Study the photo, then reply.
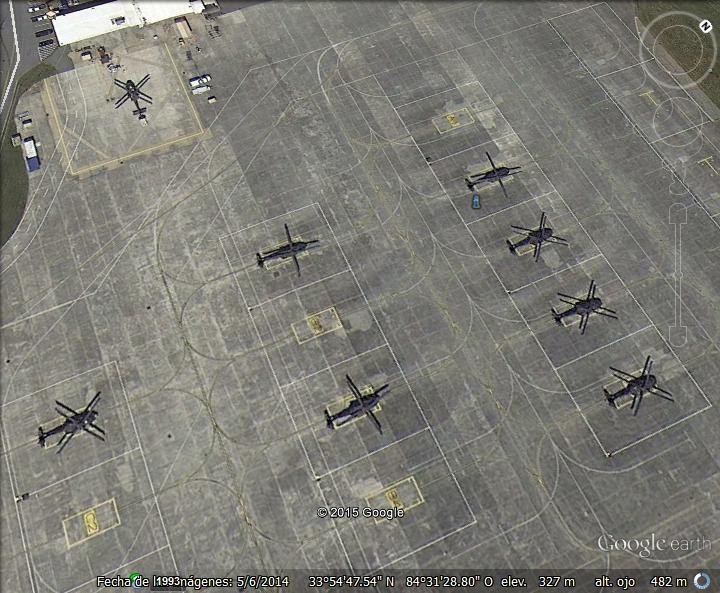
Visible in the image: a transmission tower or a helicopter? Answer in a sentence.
The one in the frame is a helicopter.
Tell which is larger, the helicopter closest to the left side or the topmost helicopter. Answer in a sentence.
The helicopter closest to the left side takes up more space than the topmost helicopter does.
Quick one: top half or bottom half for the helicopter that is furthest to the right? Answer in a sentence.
The helicopter that is furthest to the right sits in the bottom half of the picture.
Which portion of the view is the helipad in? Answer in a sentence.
The helipad sits in the top left section of the image.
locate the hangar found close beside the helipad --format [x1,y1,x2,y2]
[52,0,202,53]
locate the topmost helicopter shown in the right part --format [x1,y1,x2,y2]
[463,155,519,196]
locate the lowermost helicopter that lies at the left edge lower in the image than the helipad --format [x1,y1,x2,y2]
[33,397,106,454]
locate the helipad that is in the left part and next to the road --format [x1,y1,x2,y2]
[43,39,204,174]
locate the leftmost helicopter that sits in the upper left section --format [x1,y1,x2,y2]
[115,78,154,120]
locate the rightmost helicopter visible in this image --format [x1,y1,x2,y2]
[604,359,674,414]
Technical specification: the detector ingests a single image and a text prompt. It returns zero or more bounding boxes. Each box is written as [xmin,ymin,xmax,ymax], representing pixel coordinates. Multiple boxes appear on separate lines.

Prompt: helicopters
[552,285,618,336]
[507,217,569,263]
[463,155,519,196]
[254,224,316,270]
[604,359,674,414]
[317,380,384,433]
[115,78,154,120]
[33,397,106,454]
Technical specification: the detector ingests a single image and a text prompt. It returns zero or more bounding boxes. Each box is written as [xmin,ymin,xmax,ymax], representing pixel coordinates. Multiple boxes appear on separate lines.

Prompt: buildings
[52,0,202,53]
[204,4,221,20]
